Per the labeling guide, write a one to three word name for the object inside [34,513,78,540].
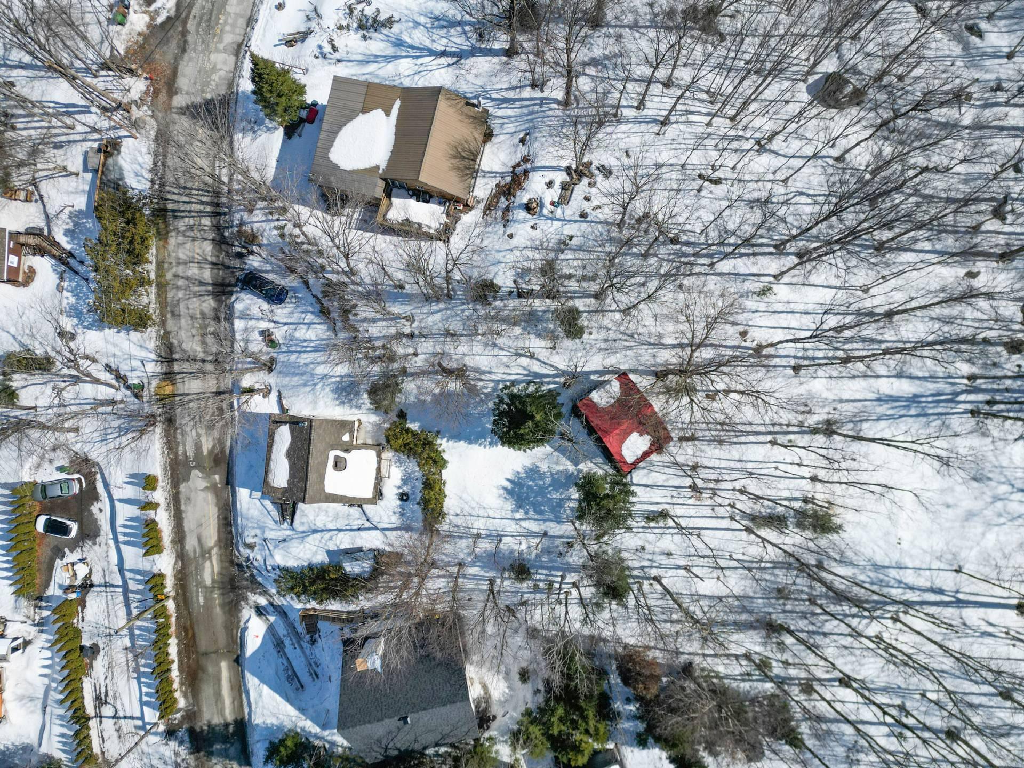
car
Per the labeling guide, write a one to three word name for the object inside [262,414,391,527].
house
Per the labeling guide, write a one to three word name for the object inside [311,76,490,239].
house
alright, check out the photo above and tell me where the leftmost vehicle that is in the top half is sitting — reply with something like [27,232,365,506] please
[235,268,286,304]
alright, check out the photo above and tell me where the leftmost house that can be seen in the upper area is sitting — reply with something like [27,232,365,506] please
[0,228,91,293]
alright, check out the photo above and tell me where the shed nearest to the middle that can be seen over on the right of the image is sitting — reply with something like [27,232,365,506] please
[575,372,673,473]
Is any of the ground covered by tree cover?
Yes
